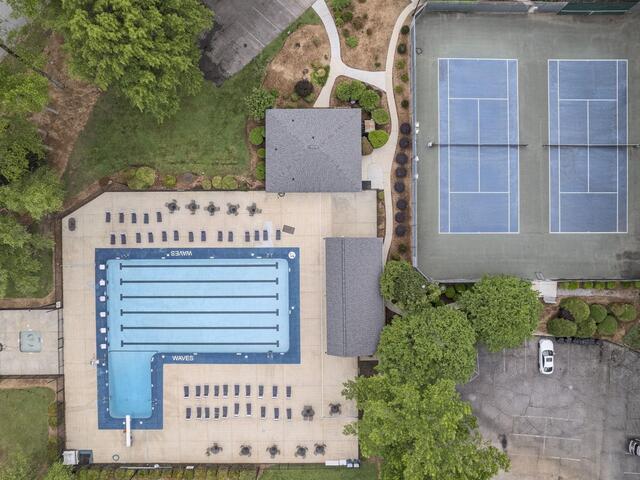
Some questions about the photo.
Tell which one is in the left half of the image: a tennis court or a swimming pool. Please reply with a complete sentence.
What appears in the left half of the image is a swimming pool.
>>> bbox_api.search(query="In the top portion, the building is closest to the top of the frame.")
[264,109,362,192]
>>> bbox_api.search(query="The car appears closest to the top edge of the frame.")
[536,338,556,374]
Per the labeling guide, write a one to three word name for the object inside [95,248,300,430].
swimming pool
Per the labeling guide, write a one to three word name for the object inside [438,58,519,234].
tennis court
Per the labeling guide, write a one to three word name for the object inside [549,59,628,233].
tennis court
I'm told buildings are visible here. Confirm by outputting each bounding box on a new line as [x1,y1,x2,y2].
[325,234,385,358]
[264,109,362,192]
